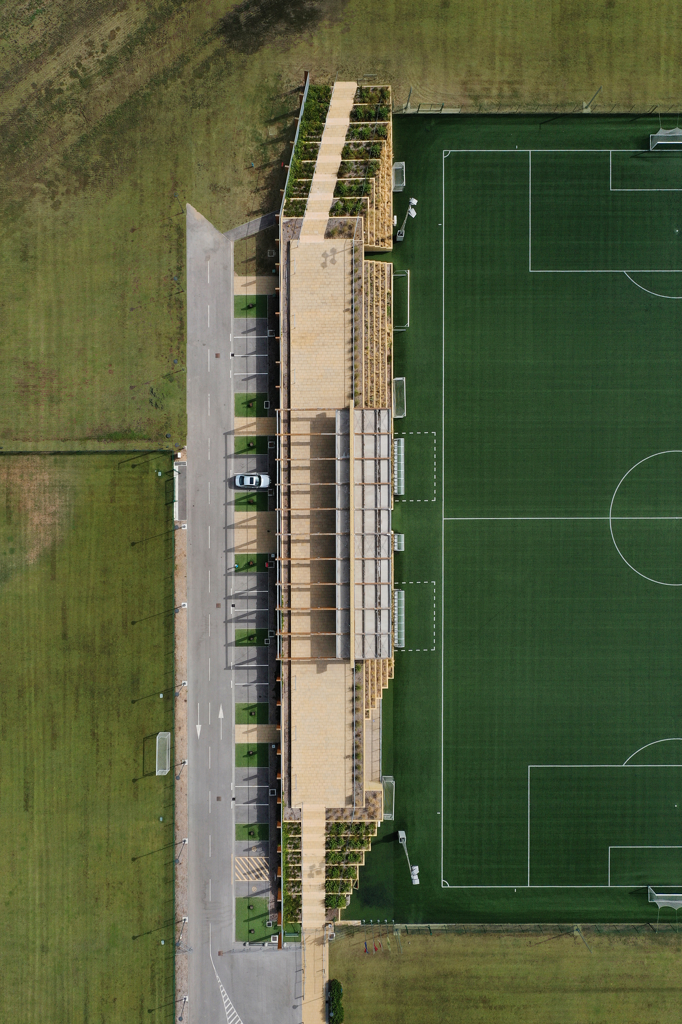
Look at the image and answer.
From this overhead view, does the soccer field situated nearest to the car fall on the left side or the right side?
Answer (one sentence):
It is on the right.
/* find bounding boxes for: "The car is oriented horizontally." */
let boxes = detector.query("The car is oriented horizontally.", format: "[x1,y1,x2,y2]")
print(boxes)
[235,473,271,489]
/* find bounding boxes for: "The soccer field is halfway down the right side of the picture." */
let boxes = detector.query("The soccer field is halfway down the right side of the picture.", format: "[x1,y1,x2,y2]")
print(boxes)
[340,113,682,923]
